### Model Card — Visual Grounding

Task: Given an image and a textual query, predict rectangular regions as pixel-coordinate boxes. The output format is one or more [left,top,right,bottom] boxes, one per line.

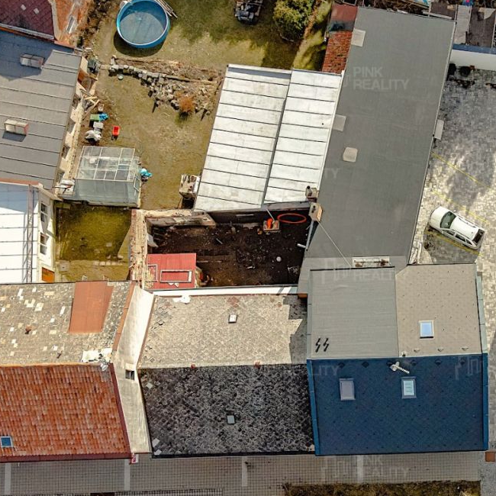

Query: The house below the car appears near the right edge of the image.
[304,262,491,457]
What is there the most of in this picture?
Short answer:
buildings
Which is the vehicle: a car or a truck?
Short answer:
car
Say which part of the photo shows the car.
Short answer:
right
